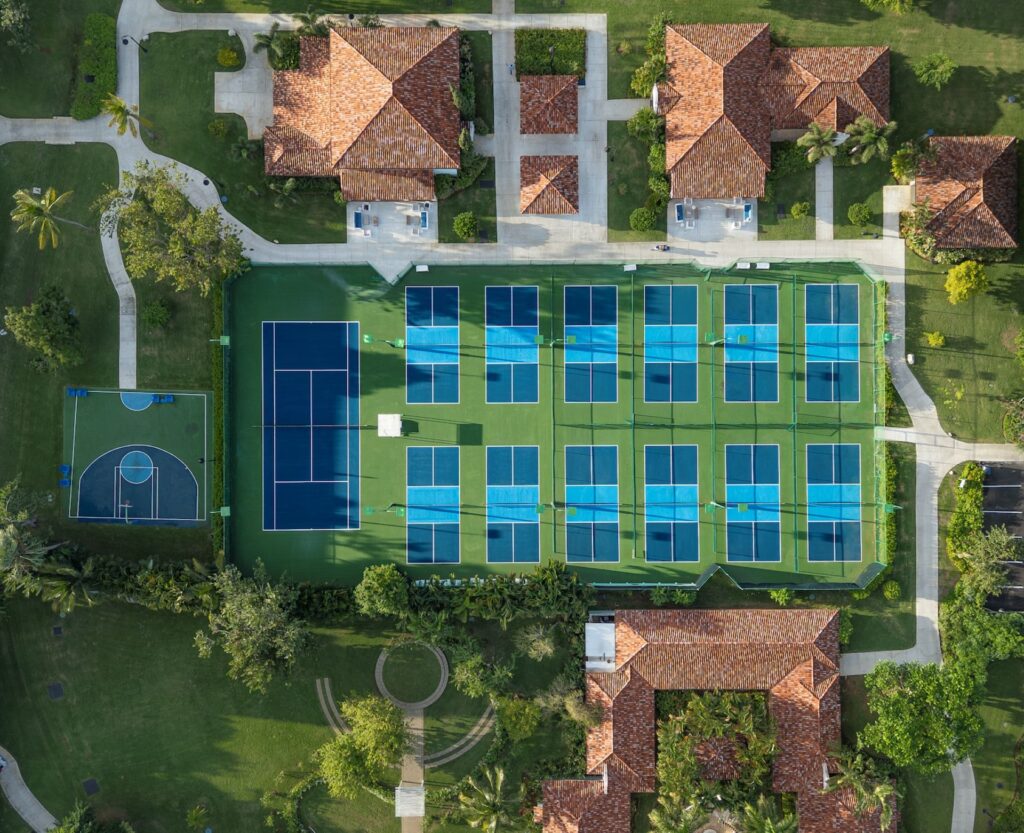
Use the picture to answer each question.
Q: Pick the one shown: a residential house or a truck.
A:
residential house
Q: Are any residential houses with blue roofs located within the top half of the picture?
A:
No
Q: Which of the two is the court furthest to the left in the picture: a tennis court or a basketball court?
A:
basketball court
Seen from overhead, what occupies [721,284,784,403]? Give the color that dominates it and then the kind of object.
blue sports court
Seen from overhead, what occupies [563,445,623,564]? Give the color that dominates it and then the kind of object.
blue sports court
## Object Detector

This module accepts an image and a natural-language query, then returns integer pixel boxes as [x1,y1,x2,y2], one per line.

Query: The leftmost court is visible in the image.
[62,387,211,526]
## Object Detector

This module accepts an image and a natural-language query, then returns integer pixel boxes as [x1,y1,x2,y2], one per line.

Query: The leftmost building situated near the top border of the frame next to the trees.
[264,26,474,202]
